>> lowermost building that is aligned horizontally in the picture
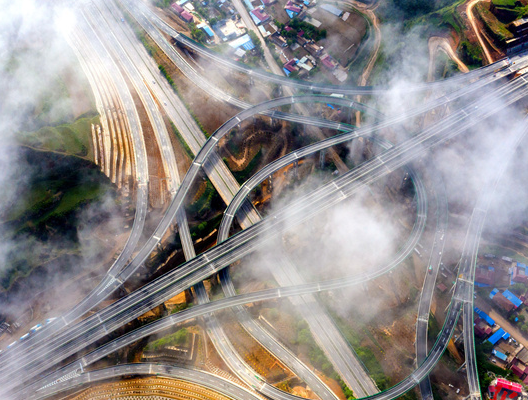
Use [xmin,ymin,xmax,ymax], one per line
[485,376,522,395]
